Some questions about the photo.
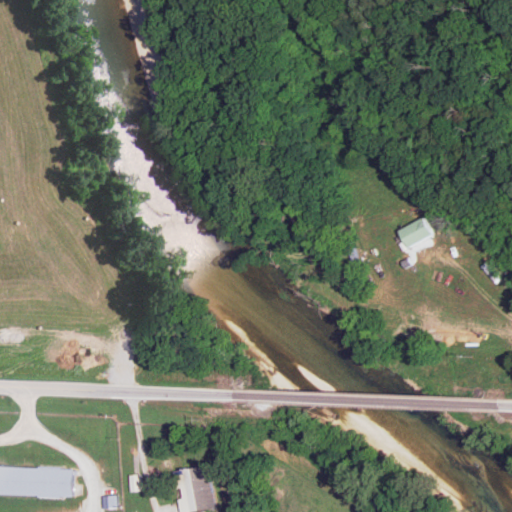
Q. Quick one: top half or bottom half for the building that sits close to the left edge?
bottom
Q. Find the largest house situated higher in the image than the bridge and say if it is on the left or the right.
right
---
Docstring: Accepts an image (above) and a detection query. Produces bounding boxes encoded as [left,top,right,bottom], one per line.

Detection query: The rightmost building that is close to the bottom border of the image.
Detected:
[180,472,215,512]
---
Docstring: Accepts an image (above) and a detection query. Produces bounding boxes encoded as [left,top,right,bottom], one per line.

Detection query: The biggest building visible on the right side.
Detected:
[396,218,435,256]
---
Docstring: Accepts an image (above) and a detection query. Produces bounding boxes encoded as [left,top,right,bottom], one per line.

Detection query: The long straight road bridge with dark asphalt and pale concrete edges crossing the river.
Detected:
[232,388,498,413]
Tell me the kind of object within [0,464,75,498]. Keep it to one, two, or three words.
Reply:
building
